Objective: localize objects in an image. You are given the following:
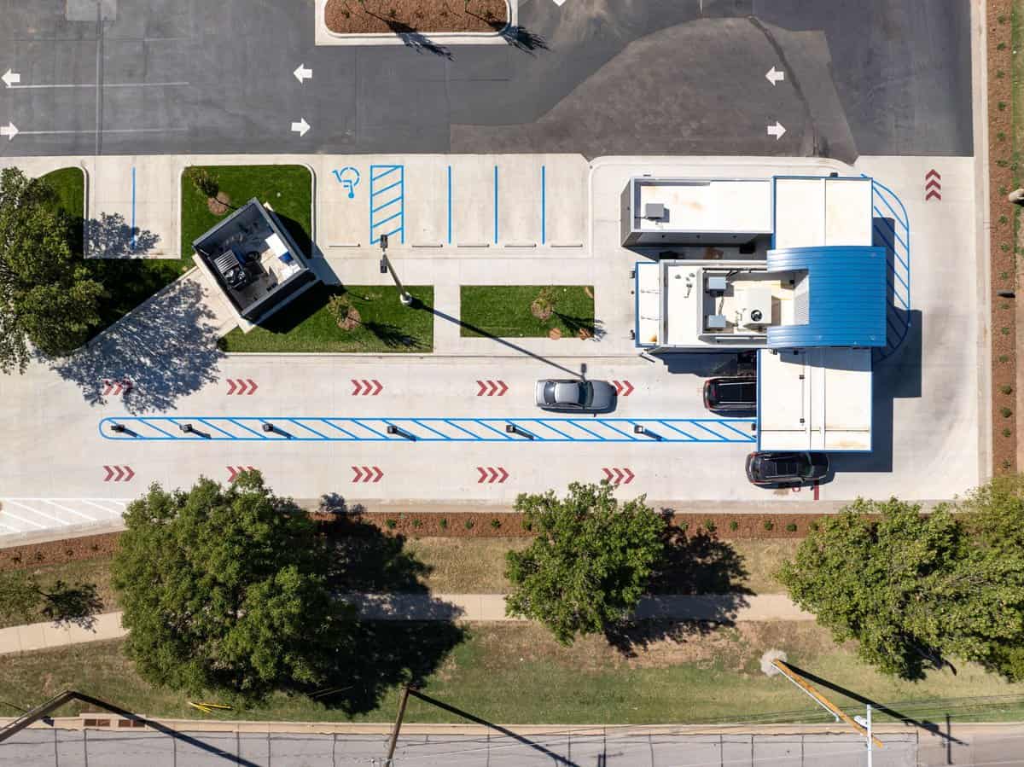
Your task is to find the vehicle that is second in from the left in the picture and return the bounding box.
[704,376,755,407]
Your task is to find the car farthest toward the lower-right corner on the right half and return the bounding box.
[745,451,830,486]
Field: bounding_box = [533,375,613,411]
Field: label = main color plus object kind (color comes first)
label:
gray car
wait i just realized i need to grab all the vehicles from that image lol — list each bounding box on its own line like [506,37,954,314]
[533,375,613,411]
[745,451,830,486]
[704,376,755,407]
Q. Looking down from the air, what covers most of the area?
paved ground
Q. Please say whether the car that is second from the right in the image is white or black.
black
